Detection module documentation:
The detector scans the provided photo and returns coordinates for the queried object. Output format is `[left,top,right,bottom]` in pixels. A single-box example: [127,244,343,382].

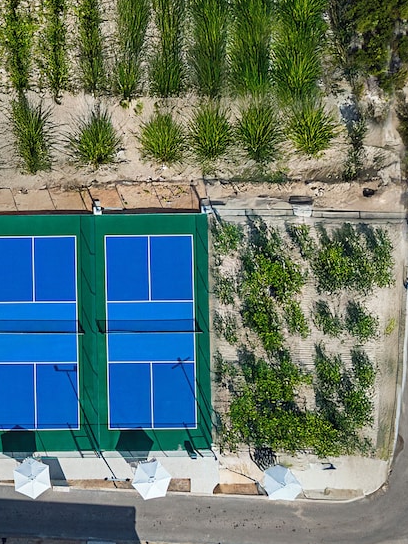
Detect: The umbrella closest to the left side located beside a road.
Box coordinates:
[14,457,50,496]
